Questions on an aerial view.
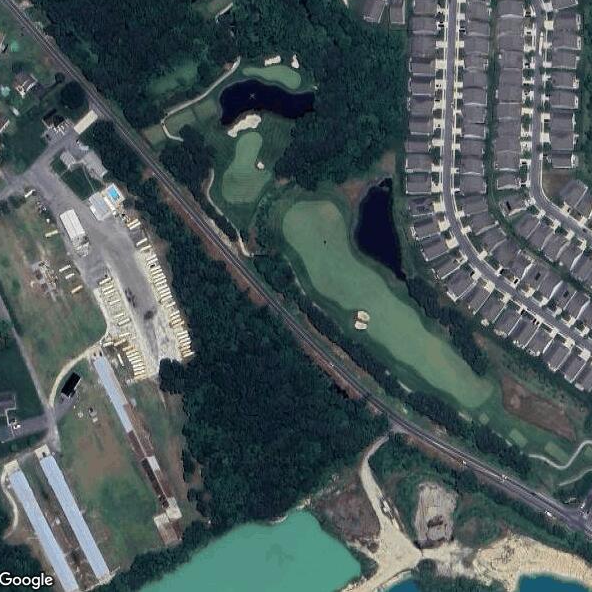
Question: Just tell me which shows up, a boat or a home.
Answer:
home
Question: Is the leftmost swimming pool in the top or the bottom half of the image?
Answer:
top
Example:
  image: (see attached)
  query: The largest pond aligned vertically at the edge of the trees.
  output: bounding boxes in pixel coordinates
[358,178,405,279]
